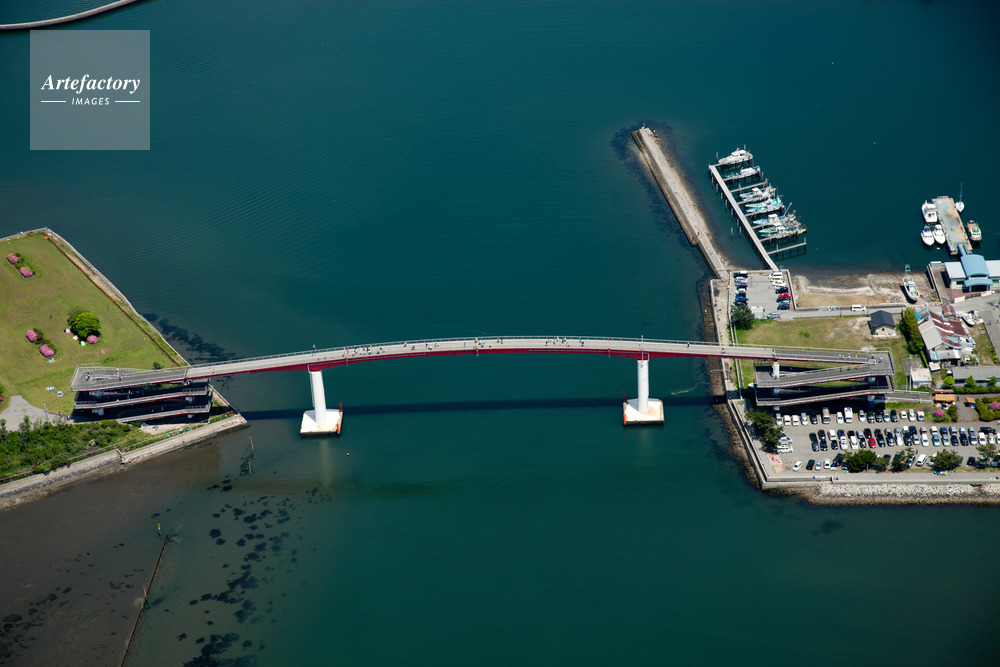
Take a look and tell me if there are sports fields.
No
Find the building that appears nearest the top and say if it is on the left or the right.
right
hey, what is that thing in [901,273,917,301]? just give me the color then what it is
white boat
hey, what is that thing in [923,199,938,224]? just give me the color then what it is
white boat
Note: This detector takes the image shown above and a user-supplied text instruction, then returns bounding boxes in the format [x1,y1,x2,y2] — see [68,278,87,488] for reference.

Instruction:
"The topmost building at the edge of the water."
[944,253,1000,292]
